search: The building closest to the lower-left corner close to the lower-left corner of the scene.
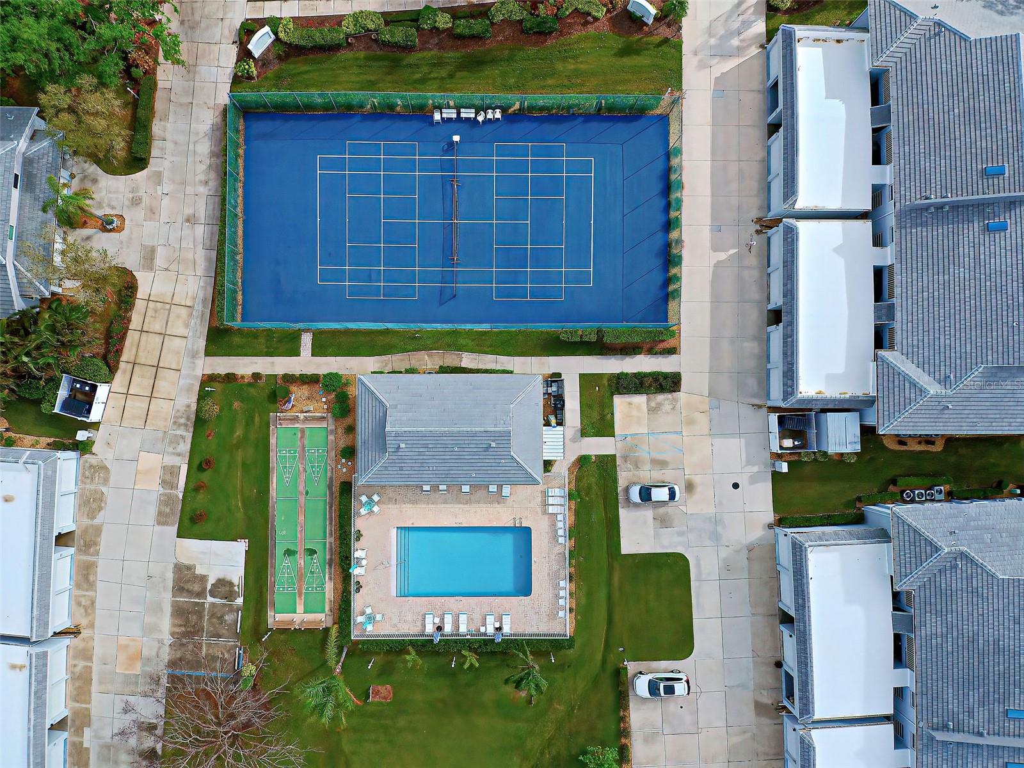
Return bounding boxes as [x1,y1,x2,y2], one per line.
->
[0,631,70,768]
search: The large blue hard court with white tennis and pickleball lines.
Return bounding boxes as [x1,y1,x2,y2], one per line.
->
[233,111,680,330]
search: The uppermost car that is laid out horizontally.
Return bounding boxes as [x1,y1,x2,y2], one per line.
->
[627,481,681,507]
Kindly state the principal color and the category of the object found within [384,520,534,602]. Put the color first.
blue swimming pool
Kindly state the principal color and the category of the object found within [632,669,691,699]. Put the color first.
white car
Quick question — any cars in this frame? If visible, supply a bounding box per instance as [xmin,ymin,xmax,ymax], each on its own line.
[627,481,681,507]
[632,669,691,699]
